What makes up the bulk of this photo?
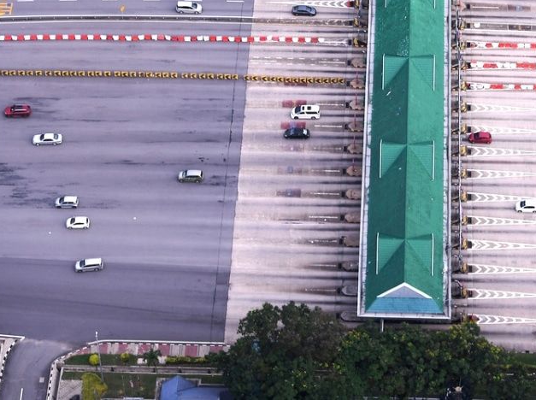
paved ground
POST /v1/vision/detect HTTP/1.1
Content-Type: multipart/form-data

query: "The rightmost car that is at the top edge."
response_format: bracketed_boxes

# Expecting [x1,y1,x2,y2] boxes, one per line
[292,4,317,16]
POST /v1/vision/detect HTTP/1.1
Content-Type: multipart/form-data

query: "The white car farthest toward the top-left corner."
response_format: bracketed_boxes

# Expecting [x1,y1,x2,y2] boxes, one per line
[33,133,62,146]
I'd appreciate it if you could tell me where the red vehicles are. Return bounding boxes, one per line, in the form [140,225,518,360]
[4,104,32,118]
[469,132,492,144]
